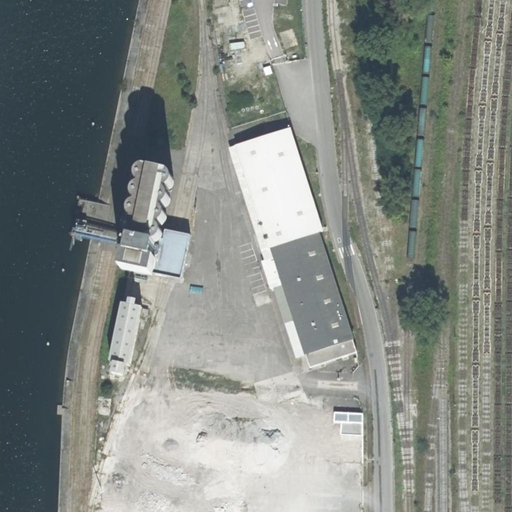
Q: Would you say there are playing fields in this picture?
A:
No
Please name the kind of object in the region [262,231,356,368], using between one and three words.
building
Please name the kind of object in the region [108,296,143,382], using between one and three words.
building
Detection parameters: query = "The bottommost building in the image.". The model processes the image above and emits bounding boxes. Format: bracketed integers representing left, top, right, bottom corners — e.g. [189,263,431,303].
[334,412,363,436]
